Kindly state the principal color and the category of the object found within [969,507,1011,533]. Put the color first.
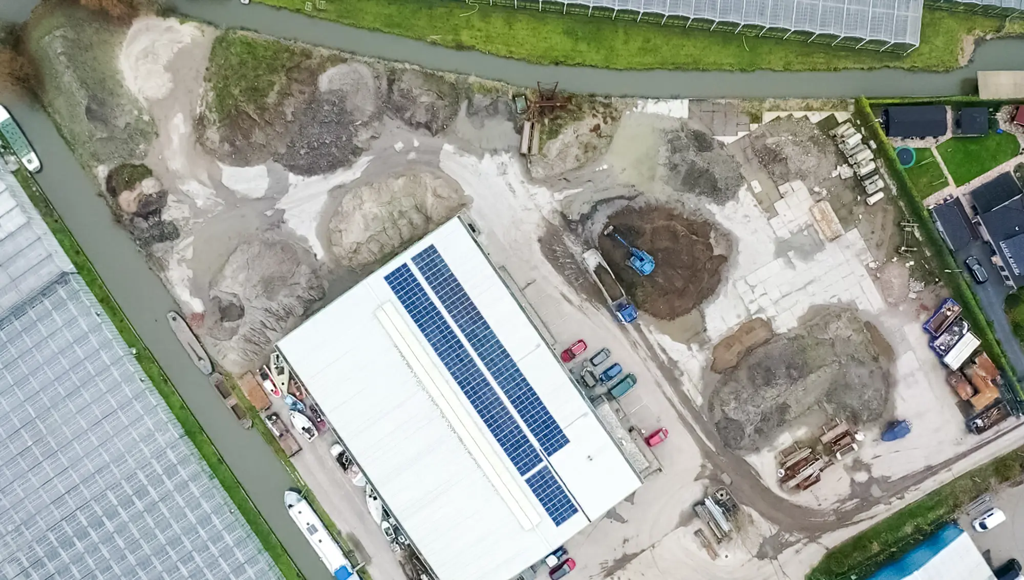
white vehicle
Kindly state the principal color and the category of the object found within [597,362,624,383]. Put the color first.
blue car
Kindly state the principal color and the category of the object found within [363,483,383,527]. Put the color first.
white boat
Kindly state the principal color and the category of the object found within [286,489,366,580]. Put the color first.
white boat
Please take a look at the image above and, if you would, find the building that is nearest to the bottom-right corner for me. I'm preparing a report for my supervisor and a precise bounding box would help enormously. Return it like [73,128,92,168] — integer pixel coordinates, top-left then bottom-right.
[862,521,1005,580]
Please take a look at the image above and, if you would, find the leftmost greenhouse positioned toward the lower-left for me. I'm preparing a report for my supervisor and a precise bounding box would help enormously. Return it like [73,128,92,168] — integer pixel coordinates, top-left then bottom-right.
[0,272,287,580]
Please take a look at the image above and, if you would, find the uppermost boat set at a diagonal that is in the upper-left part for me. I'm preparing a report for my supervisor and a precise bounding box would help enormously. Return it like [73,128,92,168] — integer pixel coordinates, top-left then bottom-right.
[0,101,42,172]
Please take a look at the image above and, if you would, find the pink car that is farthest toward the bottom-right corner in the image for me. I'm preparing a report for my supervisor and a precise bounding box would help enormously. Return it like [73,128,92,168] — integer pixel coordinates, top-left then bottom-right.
[644,427,671,448]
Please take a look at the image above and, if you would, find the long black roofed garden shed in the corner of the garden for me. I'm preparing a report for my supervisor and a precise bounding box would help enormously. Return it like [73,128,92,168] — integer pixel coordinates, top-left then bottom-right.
[884,105,949,139]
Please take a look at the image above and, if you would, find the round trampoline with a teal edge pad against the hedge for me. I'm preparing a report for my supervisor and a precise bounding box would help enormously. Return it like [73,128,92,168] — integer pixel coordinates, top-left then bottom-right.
[899,146,918,165]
